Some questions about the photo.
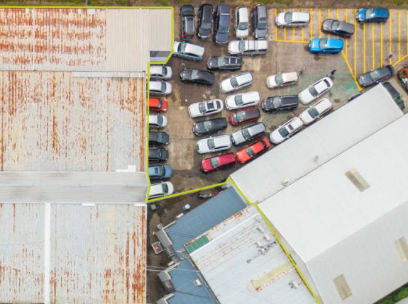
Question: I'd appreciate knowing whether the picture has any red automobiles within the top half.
Yes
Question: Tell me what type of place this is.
industrial area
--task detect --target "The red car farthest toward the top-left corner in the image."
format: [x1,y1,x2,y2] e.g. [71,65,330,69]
[149,96,166,113]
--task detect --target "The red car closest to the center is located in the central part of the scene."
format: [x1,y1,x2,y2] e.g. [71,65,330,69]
[201,153,235,172]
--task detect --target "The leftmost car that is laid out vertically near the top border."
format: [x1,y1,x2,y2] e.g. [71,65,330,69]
[177,3,195,41]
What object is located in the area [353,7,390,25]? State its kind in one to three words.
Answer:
car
